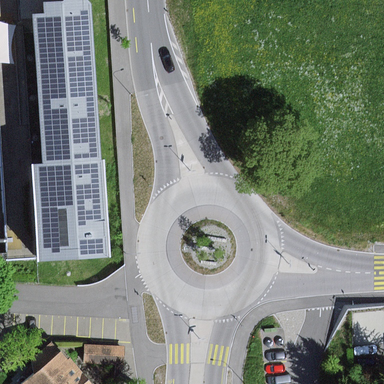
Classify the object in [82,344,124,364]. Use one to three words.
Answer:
building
